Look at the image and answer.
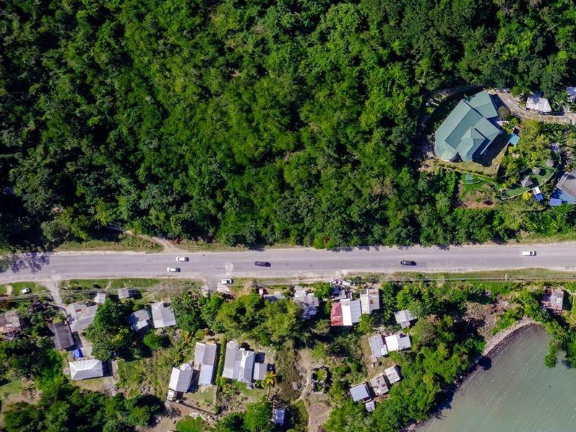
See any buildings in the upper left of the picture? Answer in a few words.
No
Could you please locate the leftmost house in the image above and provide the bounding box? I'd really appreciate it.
[0,311,24,341]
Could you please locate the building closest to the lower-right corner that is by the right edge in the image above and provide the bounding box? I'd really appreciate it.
[542,291,564,310]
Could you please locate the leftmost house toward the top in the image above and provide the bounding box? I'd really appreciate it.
[433,90,499,160]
